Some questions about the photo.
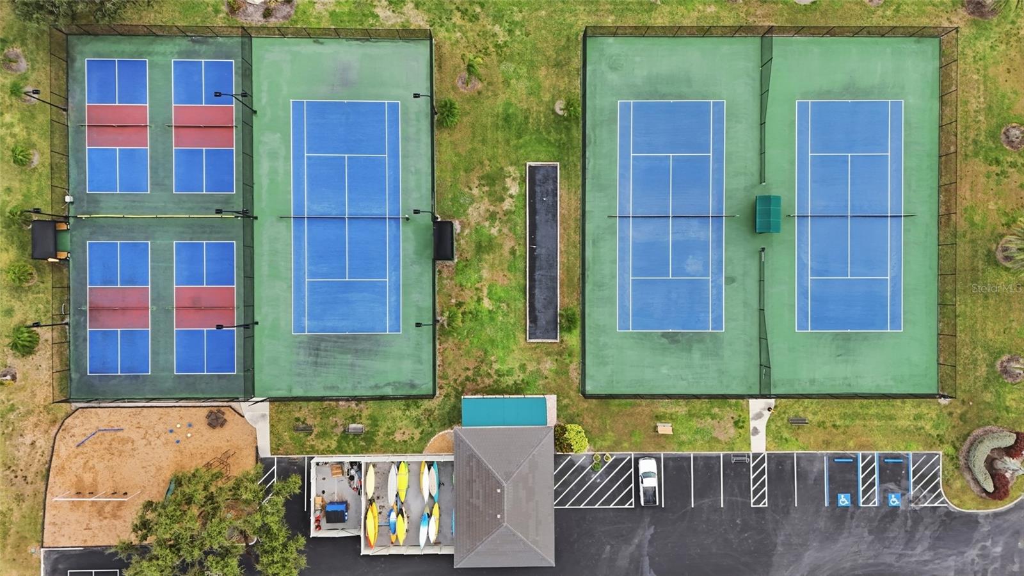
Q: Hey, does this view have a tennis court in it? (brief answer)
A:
Yes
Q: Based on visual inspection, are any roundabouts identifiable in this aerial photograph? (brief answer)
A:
No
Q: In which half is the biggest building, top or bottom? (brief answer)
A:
bottom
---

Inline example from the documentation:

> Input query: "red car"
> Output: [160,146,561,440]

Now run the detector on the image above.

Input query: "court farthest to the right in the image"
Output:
[797,100,903,332]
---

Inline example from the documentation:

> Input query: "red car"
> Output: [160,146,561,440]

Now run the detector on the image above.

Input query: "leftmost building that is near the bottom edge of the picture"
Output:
[453,426,555,568]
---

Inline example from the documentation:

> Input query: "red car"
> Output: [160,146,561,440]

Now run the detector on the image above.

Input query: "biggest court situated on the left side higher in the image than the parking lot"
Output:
[291,100,401,335]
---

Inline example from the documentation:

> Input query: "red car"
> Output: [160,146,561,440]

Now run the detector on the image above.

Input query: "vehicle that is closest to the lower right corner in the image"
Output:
[638,456,661,508]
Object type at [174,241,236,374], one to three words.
sports court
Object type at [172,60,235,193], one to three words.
sports court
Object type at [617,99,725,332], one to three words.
tennis court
